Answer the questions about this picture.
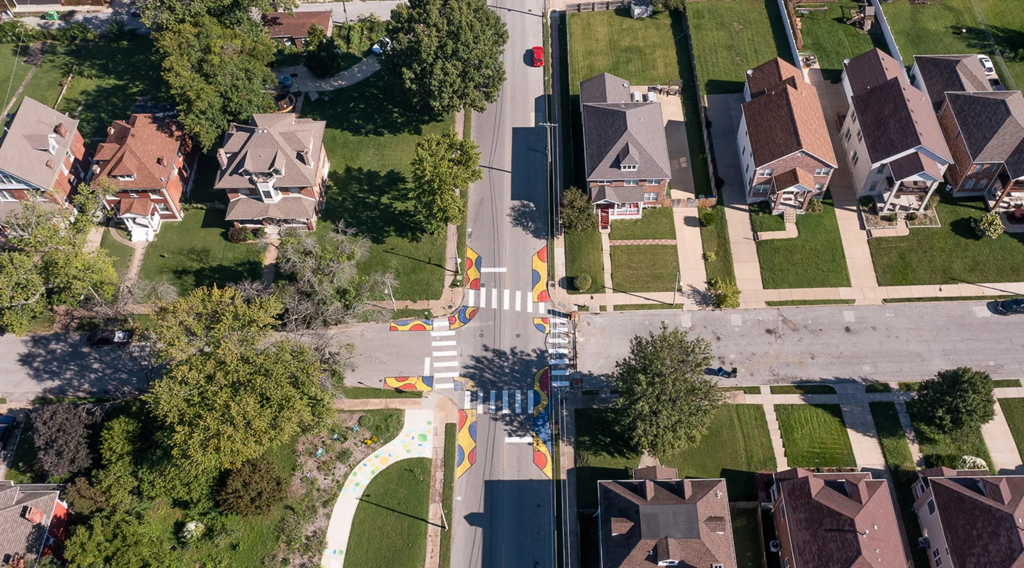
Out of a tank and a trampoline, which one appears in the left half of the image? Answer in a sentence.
Looking in the left half of the image, you will find a trampoline.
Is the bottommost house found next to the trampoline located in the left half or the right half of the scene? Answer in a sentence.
You can find the bottommost house found next to the trampoline on the left side of the picture.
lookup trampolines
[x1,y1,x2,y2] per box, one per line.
[266,82,300,114]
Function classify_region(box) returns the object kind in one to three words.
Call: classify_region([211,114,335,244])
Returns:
house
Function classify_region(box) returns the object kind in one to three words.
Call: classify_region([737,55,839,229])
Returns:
house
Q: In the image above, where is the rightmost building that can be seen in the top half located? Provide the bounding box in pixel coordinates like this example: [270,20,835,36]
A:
[911,55,1024,222]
